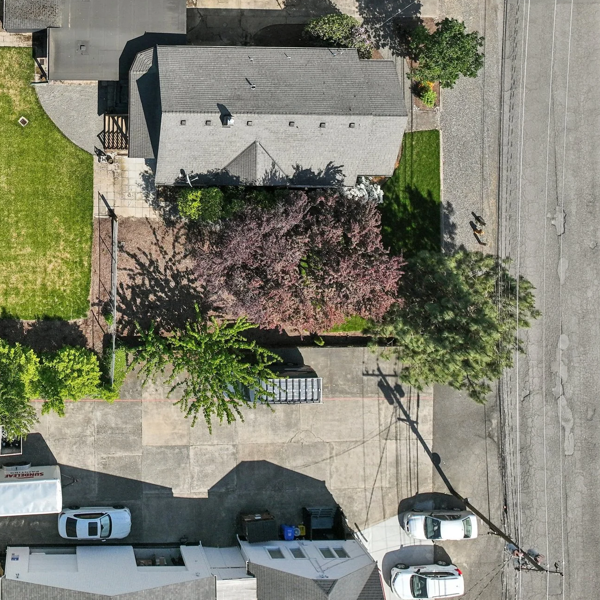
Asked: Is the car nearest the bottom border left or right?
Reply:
right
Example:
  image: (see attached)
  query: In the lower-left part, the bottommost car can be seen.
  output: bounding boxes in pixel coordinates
[60,506,130,542]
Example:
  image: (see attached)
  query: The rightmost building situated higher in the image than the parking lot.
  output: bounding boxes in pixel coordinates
[127,44,408,190]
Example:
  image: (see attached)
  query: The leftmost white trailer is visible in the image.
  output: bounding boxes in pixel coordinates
[0,463,78,515]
